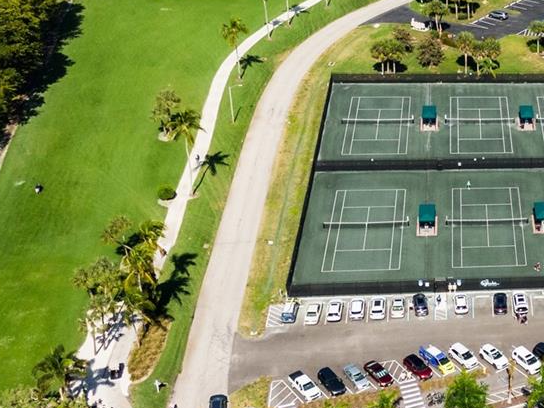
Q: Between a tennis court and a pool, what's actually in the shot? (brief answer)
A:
tennis court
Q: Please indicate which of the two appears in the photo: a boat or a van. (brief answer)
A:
van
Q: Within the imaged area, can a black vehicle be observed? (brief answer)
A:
Yes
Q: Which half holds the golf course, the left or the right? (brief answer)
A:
left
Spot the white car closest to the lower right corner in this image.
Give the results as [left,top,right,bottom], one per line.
[512,345,543,374]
